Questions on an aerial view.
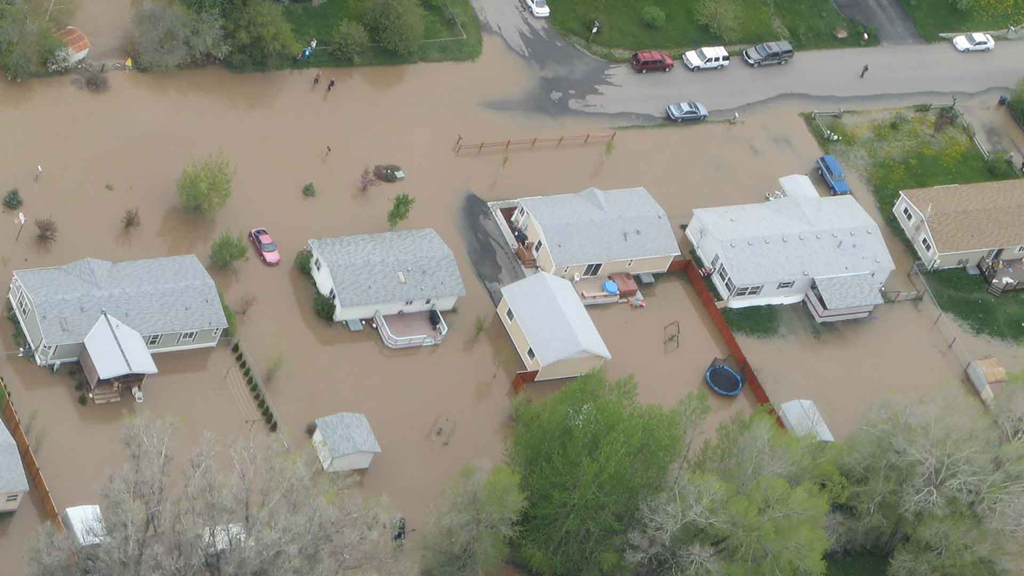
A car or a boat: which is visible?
car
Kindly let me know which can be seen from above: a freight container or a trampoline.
trampoline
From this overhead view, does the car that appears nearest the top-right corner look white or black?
white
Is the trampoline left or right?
right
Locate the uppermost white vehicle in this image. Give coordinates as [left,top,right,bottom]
[518,0,554,24]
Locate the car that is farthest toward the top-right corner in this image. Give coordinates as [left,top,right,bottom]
[951,32,995,52]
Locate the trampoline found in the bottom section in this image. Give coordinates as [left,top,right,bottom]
[706,350,747,396]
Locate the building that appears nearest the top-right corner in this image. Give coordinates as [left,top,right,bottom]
[893,179,1024,269]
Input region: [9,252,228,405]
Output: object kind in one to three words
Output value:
house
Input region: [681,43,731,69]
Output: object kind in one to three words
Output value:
car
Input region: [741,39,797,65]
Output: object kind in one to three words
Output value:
truck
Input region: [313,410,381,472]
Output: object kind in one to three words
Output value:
shed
